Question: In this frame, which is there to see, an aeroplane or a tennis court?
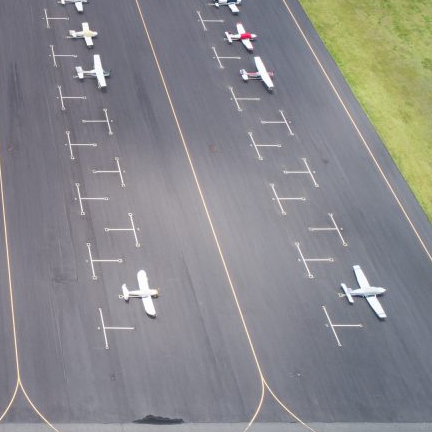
aeroplane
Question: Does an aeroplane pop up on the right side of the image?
Yes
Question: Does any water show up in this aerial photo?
No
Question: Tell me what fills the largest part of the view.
paved ground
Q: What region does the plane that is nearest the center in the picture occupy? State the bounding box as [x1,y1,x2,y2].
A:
[122,271,160,315]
